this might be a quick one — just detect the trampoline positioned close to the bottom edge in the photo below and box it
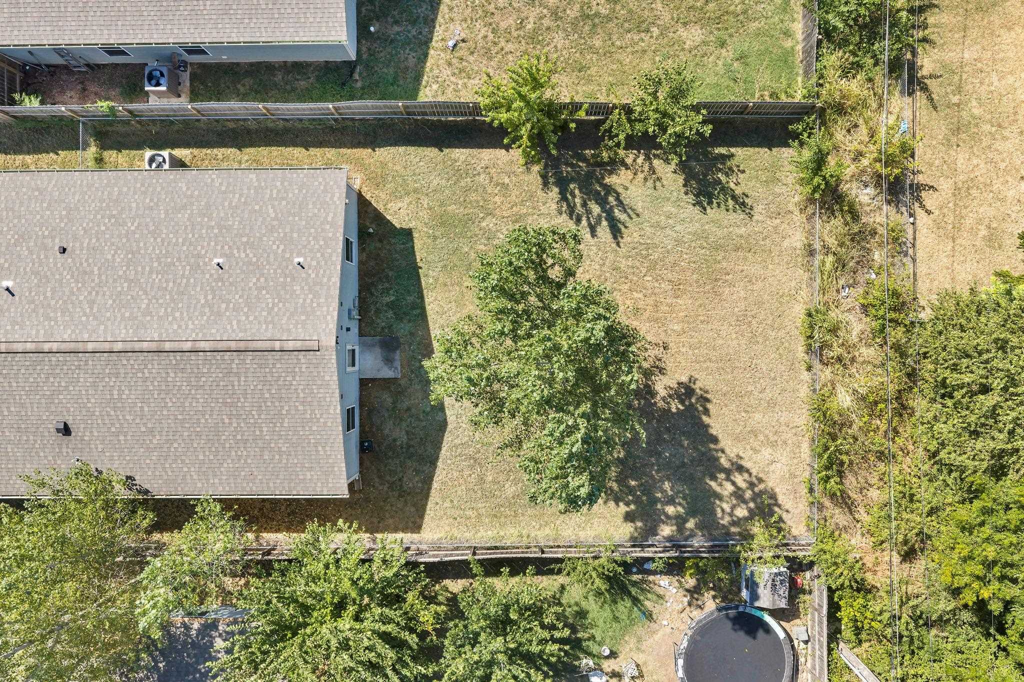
[672,597,803,682]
